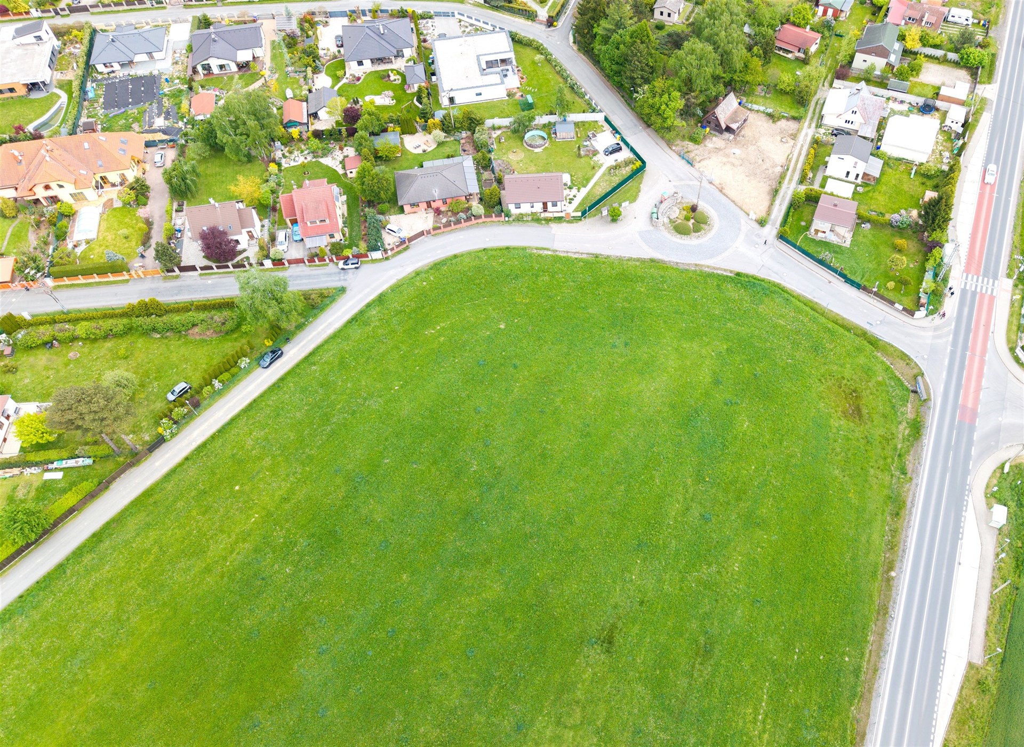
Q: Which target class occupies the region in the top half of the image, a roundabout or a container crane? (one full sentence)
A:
Visible in the top half of the image is a roundabout.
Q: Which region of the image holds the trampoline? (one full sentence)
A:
You can find the trampoline in the top right area of the picture.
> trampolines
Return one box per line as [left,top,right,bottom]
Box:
[918,97,940,117]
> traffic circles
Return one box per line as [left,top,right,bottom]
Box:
[635,181,747,267]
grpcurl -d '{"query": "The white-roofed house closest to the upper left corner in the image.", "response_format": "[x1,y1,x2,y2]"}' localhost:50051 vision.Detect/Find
[0,13,73,97]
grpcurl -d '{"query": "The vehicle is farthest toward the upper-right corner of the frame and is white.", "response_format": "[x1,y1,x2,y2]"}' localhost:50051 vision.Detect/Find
[945,8,977,29]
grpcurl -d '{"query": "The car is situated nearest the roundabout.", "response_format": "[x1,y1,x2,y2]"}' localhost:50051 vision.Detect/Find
[602,140,625,156]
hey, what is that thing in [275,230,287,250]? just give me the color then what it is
white vehicle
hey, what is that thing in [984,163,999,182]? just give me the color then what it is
white car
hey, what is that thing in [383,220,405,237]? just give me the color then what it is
white car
